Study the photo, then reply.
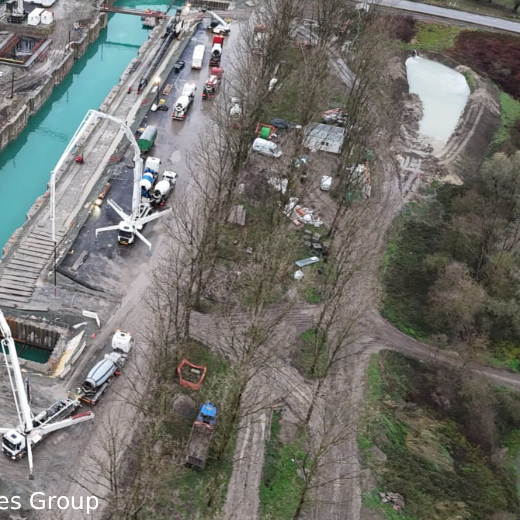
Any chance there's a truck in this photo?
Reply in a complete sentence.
Yes, the frame does contain a truck.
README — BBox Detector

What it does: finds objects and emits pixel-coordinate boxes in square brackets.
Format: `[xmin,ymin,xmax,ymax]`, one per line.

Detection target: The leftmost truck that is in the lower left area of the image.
[0,315,96,484]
